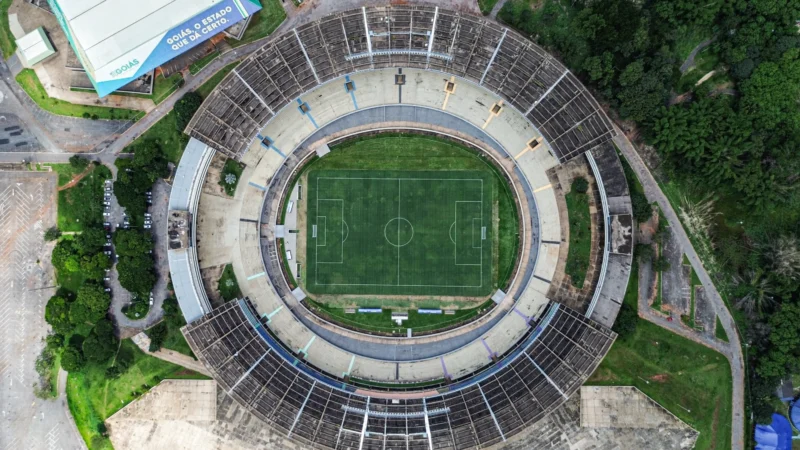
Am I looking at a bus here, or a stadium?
stadium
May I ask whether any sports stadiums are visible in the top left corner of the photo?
Yes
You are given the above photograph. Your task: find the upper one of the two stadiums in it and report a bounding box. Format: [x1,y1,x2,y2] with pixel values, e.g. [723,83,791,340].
[47,0,262,97]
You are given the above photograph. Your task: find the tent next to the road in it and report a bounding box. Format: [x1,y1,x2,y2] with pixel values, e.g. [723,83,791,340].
[752,412,792,450]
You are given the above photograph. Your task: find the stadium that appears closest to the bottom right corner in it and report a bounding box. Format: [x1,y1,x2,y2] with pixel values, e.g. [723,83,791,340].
[167,5,633,450]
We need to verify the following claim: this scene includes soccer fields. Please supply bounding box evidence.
[307,170,493,295]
